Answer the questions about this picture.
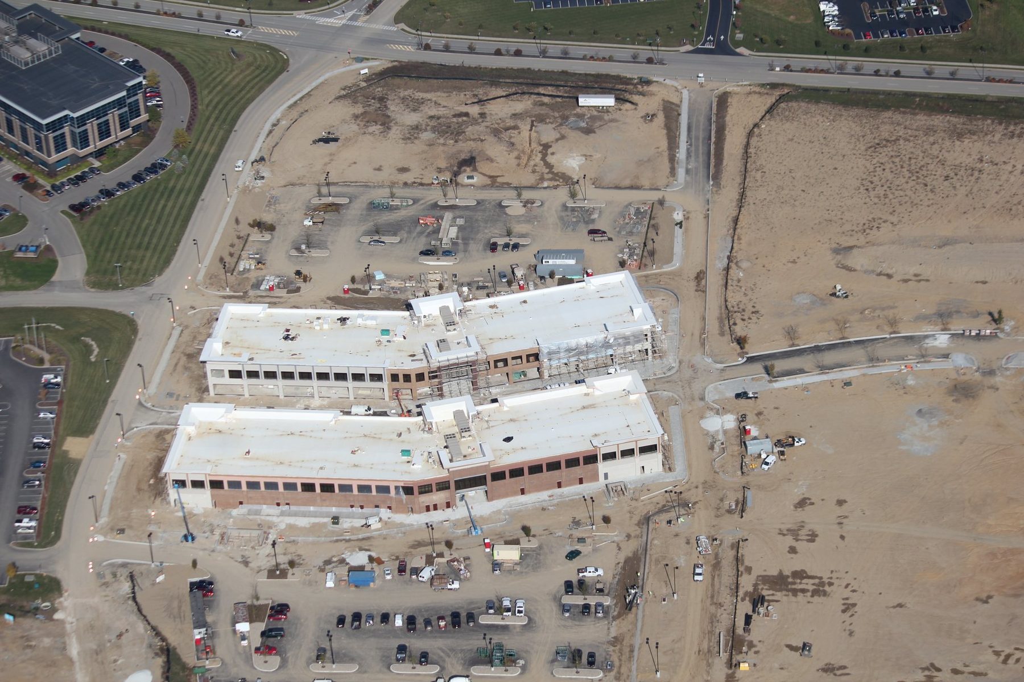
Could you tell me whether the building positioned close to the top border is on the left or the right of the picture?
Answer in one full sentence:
The building positioned close to the top border is on the left side of the image.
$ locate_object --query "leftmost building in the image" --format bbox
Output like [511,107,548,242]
[0,0,147,167]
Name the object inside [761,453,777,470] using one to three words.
car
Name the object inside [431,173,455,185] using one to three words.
vehicle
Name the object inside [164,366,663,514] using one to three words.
building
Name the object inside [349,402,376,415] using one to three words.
vehicle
